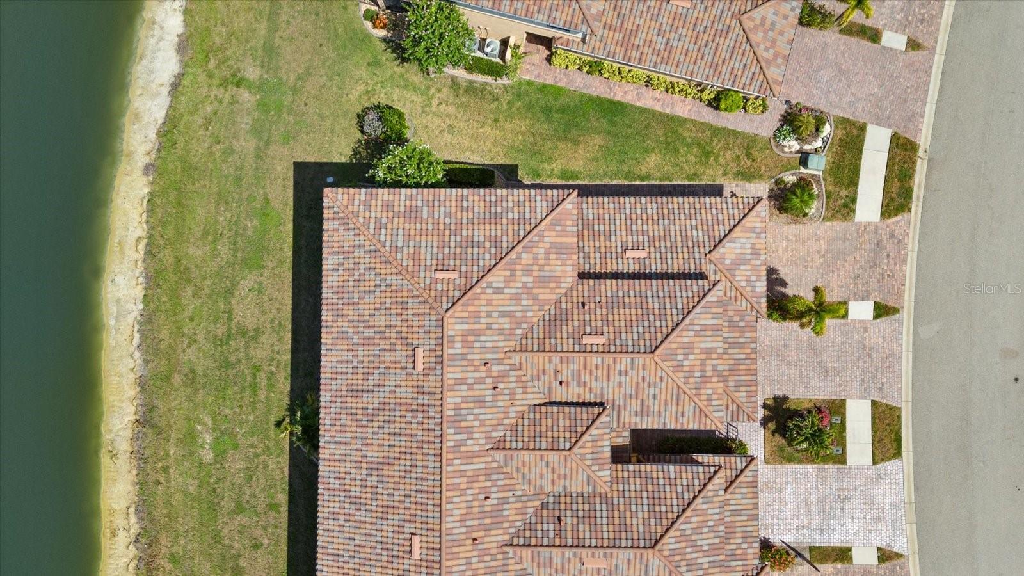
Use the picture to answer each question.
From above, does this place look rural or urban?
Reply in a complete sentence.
This place is urban.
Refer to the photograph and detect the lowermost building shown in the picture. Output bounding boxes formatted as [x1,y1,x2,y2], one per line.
[314,186,776,576]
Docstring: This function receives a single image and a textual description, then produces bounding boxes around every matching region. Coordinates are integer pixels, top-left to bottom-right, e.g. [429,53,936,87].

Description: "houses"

[376,0,797,101]
[314,186,776,576]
